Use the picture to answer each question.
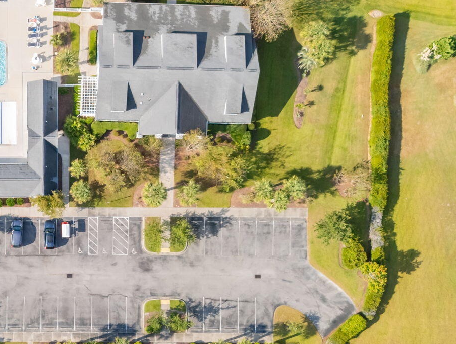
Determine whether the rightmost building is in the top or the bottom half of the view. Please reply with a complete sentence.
You can find the rightmost building in the top half.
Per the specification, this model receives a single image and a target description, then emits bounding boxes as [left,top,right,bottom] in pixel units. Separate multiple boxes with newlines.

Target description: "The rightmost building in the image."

[95,3,259,142]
